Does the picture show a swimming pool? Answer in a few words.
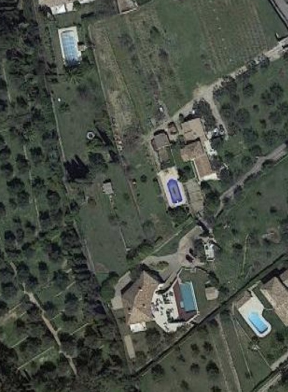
Yes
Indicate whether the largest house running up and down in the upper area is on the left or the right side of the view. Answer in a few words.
right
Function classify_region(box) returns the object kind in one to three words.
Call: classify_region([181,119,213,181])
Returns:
house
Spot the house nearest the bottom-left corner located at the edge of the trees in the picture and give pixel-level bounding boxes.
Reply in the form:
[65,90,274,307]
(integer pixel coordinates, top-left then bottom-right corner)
[122,271,160,326]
